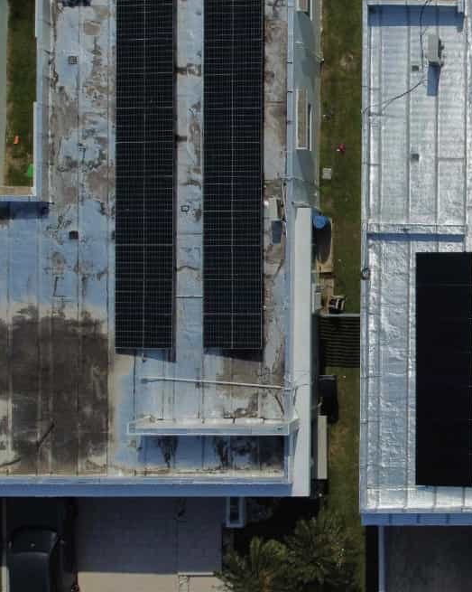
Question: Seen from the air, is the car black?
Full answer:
Yes, the car appears black.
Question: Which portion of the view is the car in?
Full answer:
The car is located in the bottom left region of the scene.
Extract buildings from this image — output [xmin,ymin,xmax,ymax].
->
[362,0,472,524]
[0,0,324,496]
